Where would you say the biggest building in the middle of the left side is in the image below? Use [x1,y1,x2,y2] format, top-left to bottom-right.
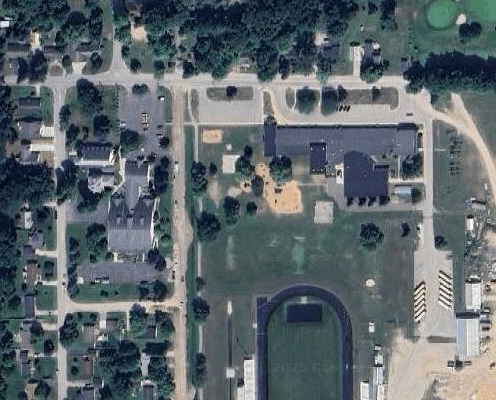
[107,158,154,248]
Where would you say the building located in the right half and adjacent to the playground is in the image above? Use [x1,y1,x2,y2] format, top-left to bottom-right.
[265,124,416,196]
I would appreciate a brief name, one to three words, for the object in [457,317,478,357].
building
